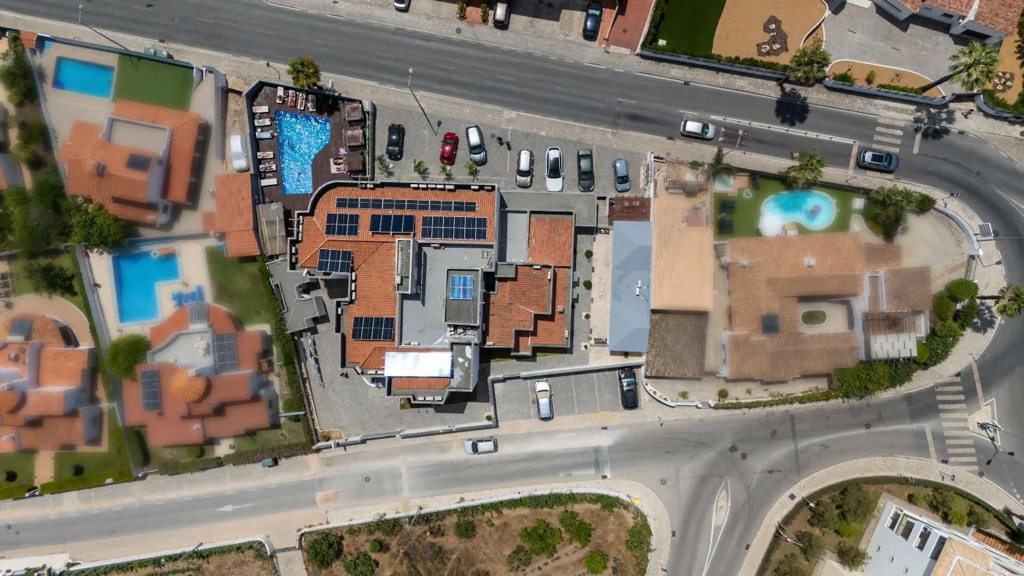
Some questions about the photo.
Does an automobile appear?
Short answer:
Yes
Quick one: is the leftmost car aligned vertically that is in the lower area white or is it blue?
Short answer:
white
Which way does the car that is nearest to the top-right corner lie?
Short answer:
from side to side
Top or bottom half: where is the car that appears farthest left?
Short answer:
top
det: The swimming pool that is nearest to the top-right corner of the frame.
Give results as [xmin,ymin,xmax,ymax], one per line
[759,187,841,233]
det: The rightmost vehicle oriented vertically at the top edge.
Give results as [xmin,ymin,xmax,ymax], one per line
[582,0,603,43]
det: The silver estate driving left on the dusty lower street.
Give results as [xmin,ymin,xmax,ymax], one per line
[464,436,498,456]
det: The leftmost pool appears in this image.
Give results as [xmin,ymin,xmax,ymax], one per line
[49,54,116,99]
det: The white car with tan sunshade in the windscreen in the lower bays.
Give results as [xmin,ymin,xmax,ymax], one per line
[533,379,553,421]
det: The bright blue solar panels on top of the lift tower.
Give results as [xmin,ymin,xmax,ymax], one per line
[450,275,474,300]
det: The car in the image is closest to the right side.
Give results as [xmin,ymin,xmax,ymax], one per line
[856,150,899,171]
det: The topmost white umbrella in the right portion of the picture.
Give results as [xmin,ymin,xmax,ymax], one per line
[757,212,782,237]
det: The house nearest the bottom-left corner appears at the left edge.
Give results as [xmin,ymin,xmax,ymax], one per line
[0,312,117,452]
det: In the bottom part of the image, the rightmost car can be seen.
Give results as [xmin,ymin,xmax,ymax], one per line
[618,368,639,410]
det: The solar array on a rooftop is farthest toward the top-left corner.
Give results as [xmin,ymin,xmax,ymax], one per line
[127,154,152,171]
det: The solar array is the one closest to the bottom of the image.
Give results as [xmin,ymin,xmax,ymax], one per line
[141,370,161,411]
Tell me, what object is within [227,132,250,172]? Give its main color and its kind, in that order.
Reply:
white car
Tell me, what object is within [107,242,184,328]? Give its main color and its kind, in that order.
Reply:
blue swimming pool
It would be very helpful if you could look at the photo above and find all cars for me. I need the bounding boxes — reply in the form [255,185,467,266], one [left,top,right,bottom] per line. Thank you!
[464,436,498,456]
[618,368,639,410]
[612,158,633,192]
[582,0,603,43]
[856,150,899,171]
[384,123,405,161]
[576,149,596,191]
[466,125,487,165]
[492,0,513,33]
[544,147,566,191]
[679,120,715,140]
[533,379,553,421]
[515,149,536,188]
[440,132,459,166]
[227,132,250,172]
